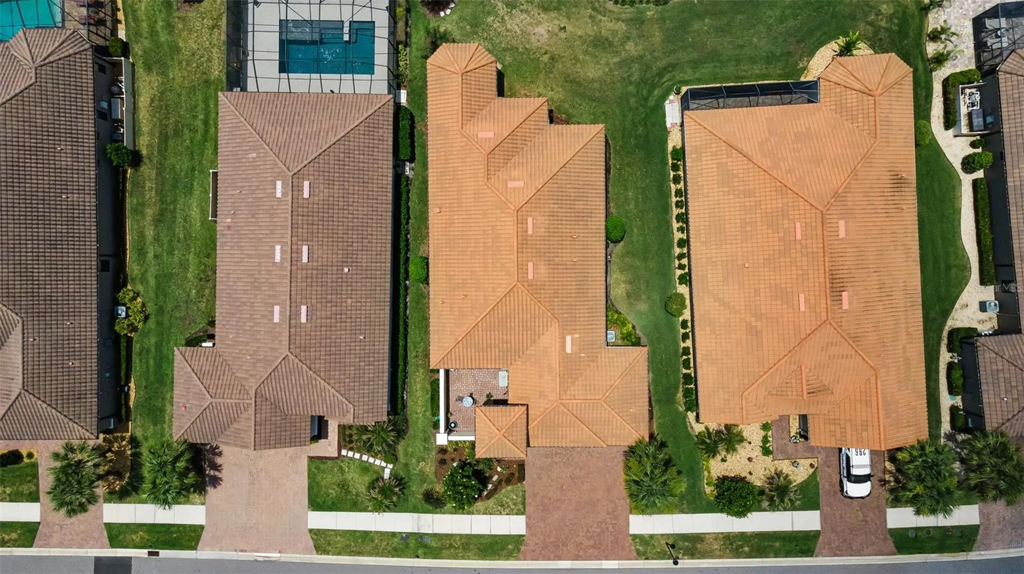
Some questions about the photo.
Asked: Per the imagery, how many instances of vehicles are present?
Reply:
1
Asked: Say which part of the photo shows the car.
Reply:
bottom right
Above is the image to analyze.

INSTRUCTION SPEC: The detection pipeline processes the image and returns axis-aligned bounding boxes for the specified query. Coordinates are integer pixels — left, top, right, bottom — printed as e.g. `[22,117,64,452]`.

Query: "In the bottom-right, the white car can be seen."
[836,448,874,501]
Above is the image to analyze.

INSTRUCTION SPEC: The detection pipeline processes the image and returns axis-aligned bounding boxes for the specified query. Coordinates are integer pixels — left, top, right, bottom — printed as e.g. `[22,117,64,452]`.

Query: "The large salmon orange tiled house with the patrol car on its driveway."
[682,51,929,451]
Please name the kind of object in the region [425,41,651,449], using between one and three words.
house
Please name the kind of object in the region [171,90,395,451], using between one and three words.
house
